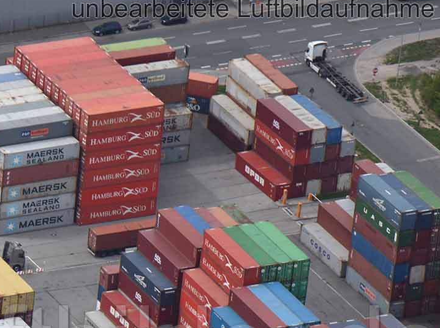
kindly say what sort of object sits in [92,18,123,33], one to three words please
car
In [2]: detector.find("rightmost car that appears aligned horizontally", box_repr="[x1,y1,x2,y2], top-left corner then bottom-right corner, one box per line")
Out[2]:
[160,10,191,24]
